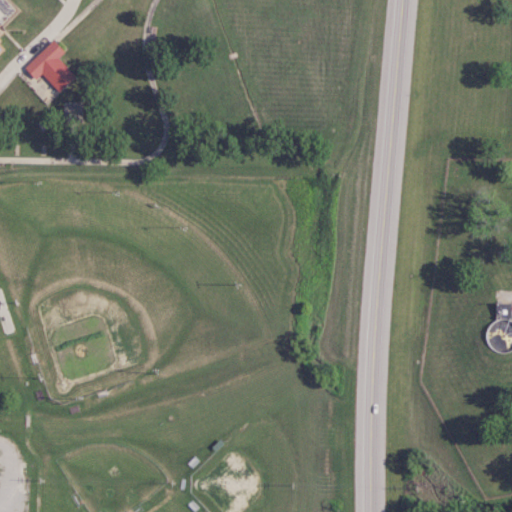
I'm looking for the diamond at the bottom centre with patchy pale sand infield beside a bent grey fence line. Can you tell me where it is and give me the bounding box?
[192,421,296,512]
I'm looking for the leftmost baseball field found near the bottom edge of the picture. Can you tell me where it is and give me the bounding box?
[57,446,169,512]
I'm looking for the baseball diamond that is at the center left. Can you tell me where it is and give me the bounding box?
[8,180,263,402]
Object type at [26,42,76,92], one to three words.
house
